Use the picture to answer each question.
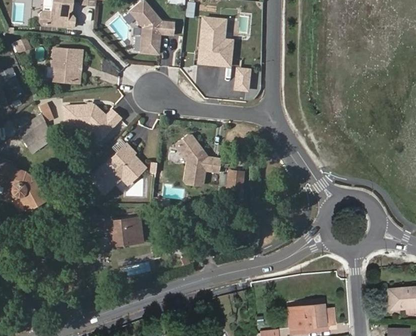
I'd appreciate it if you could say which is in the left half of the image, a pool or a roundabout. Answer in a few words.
pool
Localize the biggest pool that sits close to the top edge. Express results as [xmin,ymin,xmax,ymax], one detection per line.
[107,14,130,44]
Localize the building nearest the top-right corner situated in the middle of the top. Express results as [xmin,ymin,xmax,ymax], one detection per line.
[233,67,250,92]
